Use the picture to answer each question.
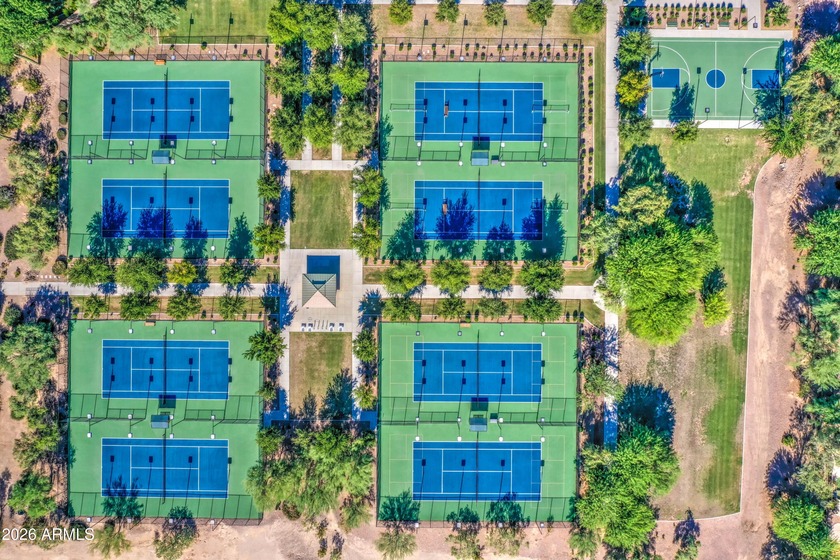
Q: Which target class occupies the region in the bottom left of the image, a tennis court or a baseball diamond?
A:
tennis court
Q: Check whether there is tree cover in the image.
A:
Yes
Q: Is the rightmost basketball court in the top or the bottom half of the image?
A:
top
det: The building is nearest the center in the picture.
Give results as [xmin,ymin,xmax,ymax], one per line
[302,274,336,307]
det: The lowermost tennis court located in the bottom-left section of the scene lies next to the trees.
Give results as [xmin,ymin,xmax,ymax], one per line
[69,419,264,517]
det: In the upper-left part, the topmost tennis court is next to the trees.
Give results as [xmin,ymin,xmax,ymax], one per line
[69,61,265,158]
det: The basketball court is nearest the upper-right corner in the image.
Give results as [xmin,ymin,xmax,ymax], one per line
[648,38,783,120]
